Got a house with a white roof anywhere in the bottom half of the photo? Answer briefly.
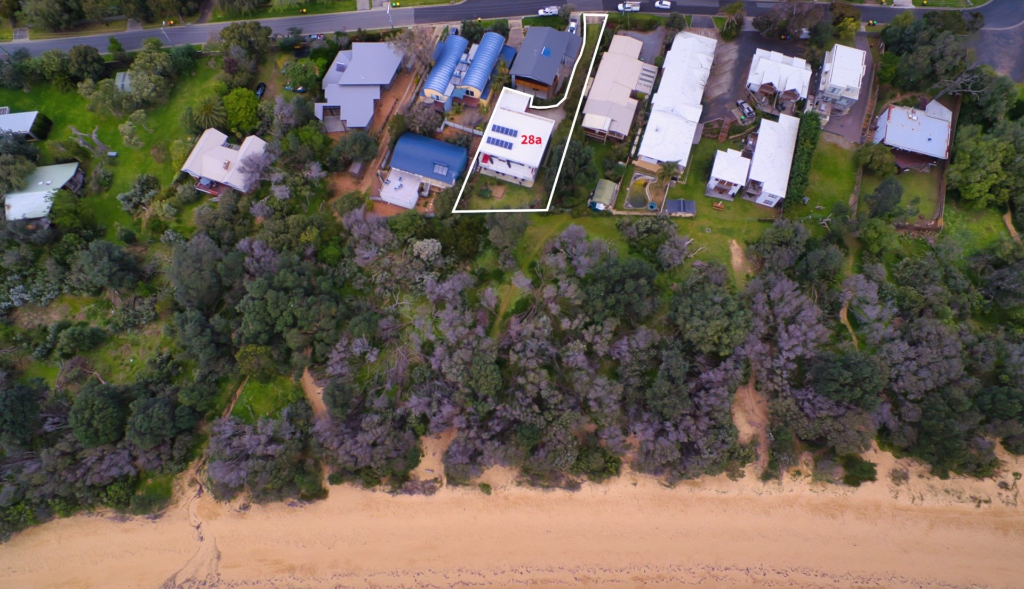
No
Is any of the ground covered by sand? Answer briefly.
Yes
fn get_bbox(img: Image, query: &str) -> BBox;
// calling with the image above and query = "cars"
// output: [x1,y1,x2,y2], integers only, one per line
[253,83,268,99]
[800,28,810,42]
[537,5,559,16]
[735,100,758,117]
[618,1,641,12]
[654,0,672,10]
[568,16,578,34]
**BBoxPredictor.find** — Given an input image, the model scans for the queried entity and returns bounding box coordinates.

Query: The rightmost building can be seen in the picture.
[874,99,952,174]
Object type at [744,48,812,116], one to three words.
house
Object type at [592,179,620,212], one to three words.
shed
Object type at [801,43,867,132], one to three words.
building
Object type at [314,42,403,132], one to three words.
house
